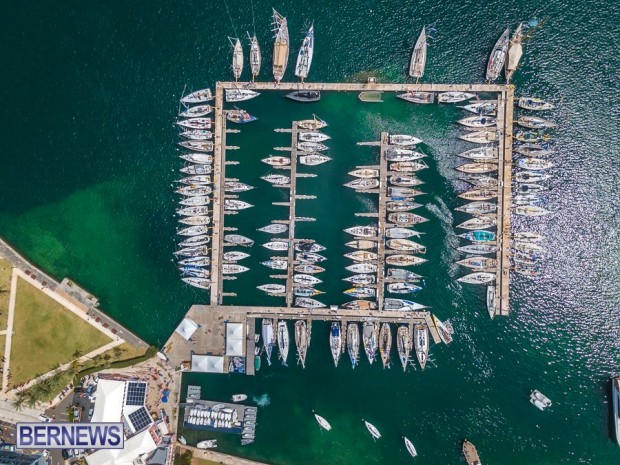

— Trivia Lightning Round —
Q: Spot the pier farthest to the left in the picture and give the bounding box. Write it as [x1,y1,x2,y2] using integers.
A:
[54,277,101,312]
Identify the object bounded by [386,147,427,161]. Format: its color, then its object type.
white boat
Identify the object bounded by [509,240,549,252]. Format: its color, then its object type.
white boat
